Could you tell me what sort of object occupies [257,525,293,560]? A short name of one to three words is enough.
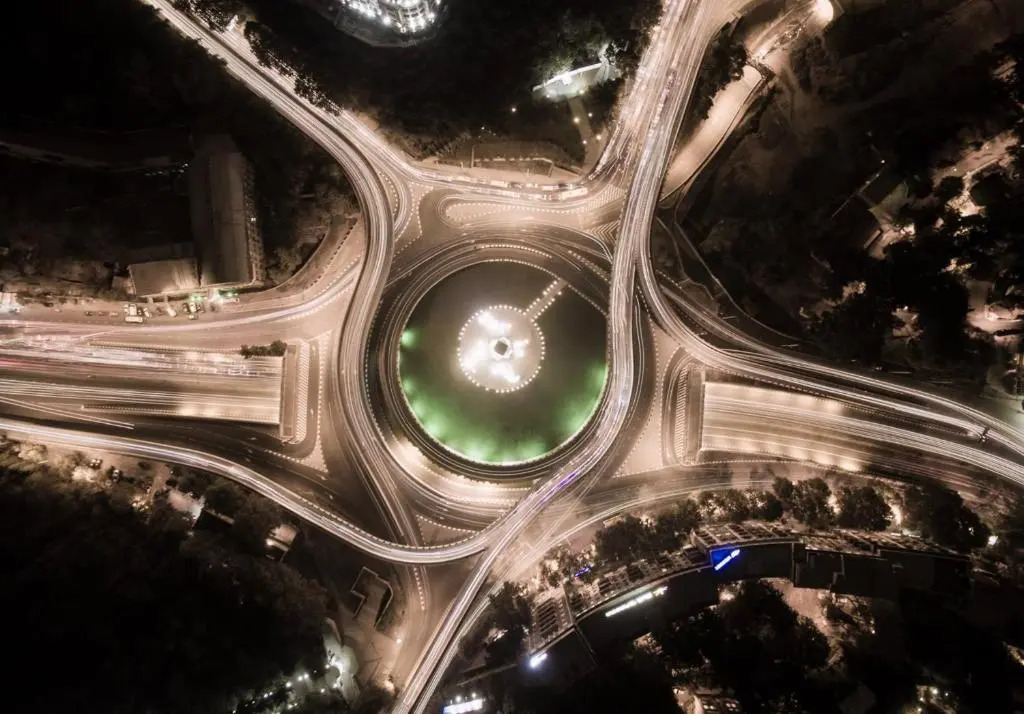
house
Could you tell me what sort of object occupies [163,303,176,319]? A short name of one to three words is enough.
vehicle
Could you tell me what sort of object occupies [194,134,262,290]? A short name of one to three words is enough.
building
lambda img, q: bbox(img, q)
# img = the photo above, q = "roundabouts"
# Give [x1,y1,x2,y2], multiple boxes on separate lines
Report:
[361,212,635,514]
